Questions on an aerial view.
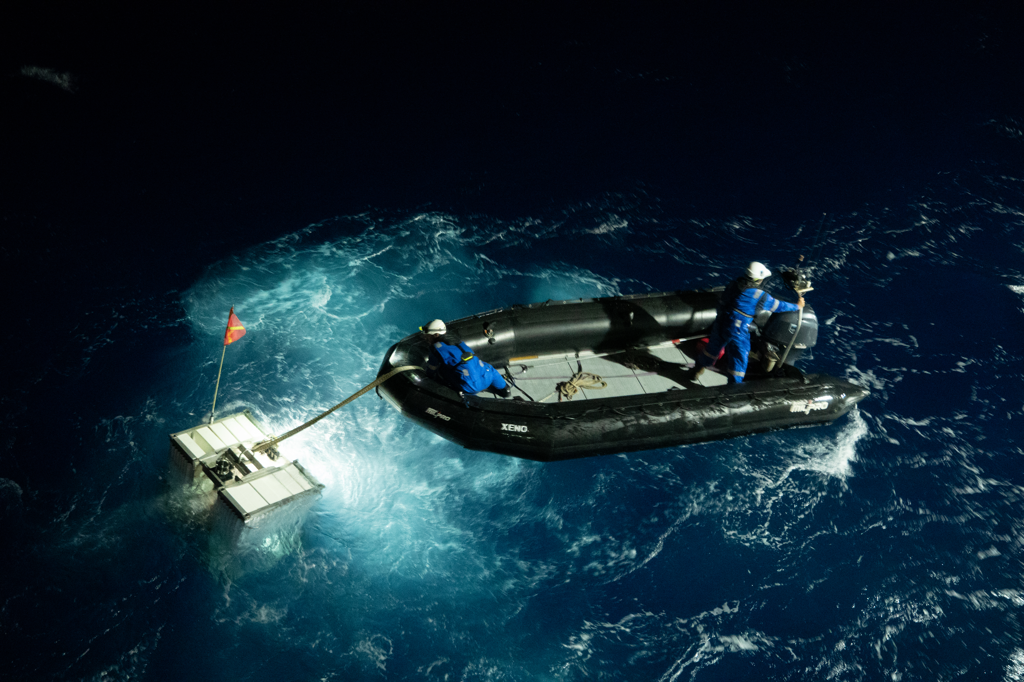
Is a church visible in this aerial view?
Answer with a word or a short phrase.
No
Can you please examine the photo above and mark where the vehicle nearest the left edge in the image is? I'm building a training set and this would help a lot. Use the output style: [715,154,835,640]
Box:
[167,308,326,558]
